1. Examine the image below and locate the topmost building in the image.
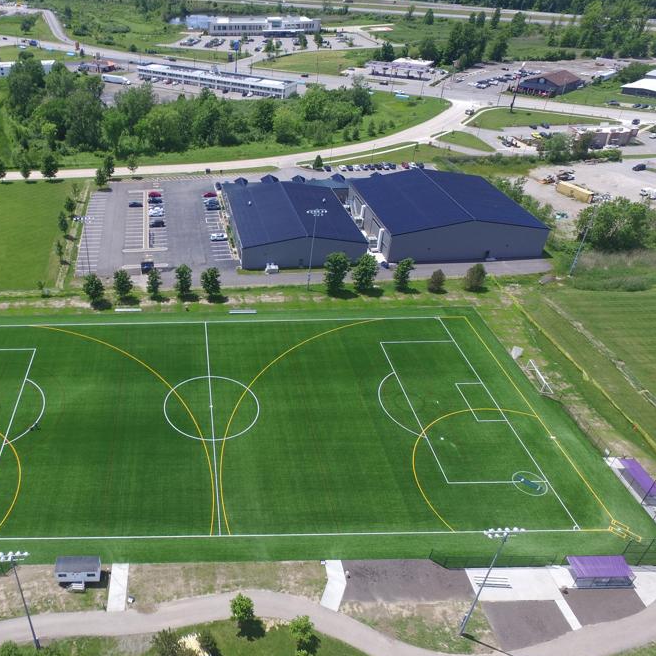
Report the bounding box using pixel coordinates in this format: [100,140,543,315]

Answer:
[209,16,327,36]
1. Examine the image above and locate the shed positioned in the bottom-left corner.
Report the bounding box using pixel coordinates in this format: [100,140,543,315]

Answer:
[51,556,101,595]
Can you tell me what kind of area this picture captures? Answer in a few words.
sports ground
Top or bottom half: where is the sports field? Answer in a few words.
bottom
